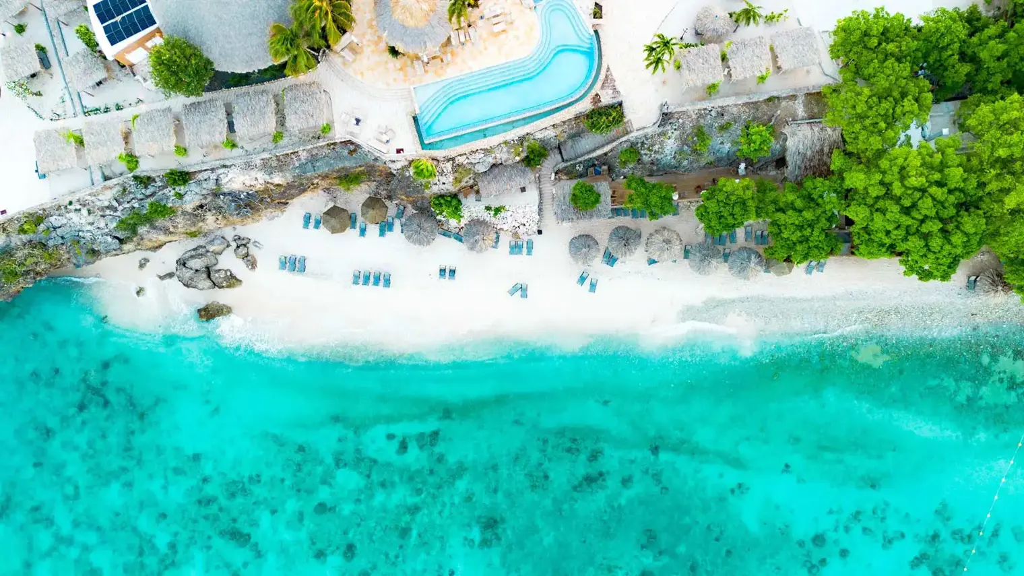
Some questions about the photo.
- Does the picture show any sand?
Yes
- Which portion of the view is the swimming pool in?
top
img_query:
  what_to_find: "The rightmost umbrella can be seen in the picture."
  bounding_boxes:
[974,264,1006,299]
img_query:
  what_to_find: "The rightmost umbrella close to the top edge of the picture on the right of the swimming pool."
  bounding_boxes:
[692,1,736,44]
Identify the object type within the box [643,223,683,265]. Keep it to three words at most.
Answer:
umbrella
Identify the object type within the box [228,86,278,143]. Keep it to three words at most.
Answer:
shed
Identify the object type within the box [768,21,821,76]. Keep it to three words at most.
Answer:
shed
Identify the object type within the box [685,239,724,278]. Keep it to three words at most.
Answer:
umbrella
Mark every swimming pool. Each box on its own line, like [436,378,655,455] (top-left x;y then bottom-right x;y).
[406,0,609,162]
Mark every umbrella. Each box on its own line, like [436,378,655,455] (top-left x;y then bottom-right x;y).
[726,243,766,283]
[974,264,1006,299]
[322,206,350,234]
[604,222,644,260]
[692,1,736,44]
[685,239,724,278]
[643,223,683,265]
[766,252,796,278]
[460,217,498,256]
[361,197,387,223]
[401,210,440,249]
[566,232,600,266]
